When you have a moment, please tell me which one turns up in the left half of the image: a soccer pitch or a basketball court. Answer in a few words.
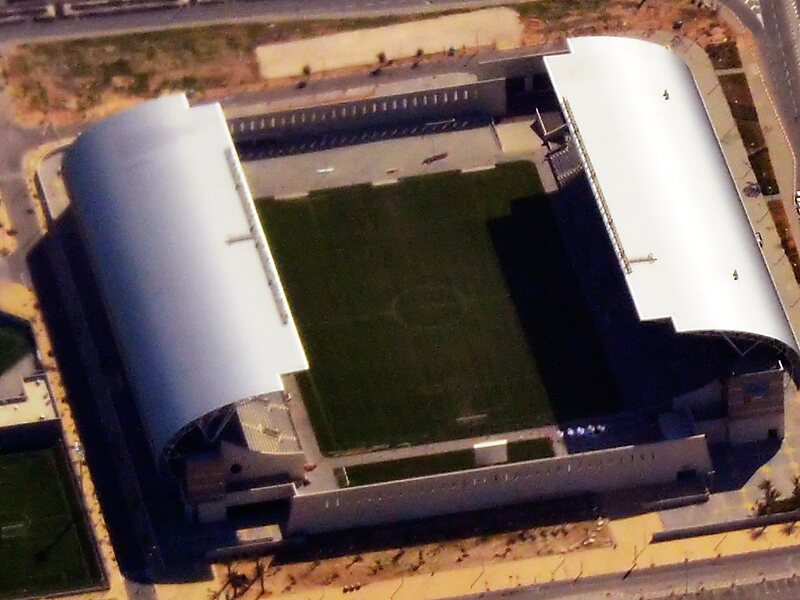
soccer pitch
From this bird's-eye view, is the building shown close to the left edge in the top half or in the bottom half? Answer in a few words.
bottom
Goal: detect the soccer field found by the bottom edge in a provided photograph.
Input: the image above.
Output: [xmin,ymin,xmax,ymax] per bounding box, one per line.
[0,436,96,596]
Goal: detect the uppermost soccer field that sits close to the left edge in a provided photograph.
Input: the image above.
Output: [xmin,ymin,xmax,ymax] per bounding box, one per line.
[0,320,31,373]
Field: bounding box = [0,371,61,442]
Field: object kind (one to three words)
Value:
building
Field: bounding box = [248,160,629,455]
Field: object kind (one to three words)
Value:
soccer field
